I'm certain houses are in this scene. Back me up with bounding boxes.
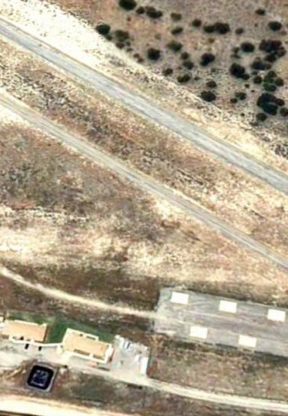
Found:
[0,320,46,343]
[61,330,112,365]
